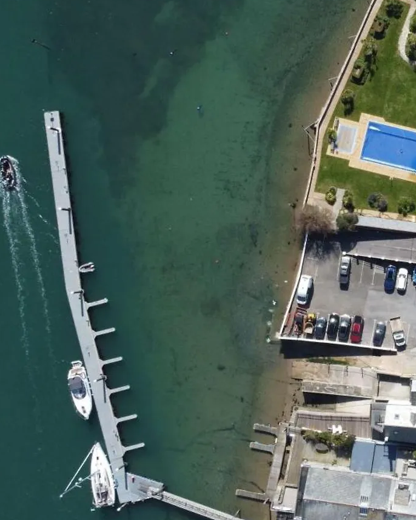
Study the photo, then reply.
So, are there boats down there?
Yes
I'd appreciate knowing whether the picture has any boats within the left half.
Yes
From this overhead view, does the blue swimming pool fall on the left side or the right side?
right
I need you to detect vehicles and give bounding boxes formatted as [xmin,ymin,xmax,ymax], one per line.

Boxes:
[349,317,366,343]
[396,269,409,292]
[294,277,315,304]
[303,317,315,339]
[372,321,388,345]
[291,305,303,334]
[383,266,397,291]
[315,317,328,339]
[325,313,340,341]
[386,318,406,349]
[338,316,352,343]
[339,257,352,286]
